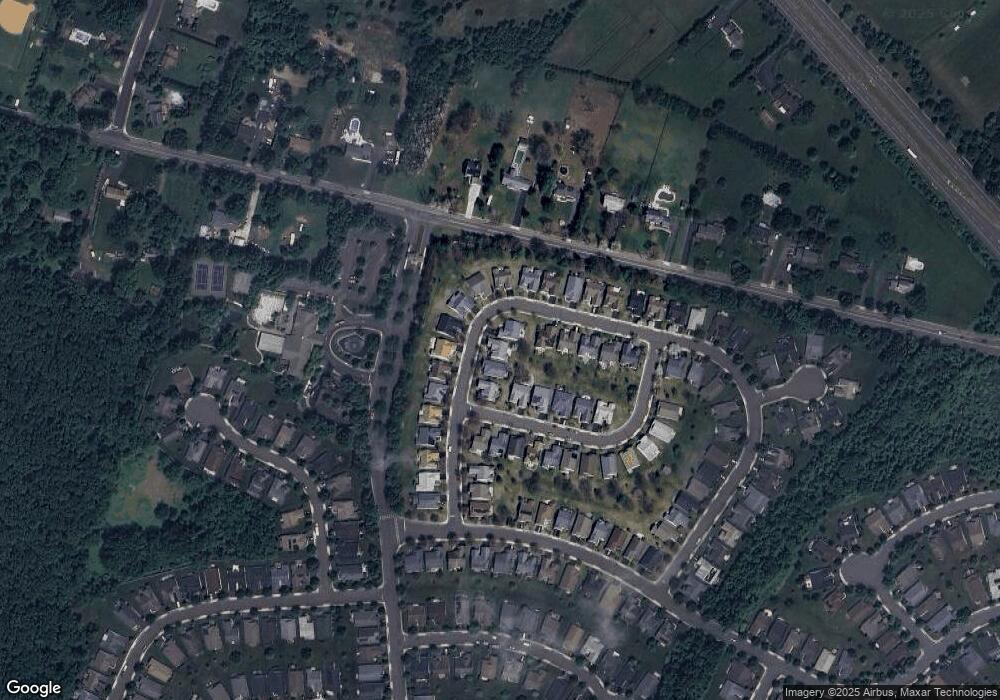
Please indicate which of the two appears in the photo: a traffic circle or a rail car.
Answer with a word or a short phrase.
traffic circle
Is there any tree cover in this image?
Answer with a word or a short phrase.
Yes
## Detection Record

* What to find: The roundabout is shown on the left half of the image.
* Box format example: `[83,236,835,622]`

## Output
[322,319,389,379]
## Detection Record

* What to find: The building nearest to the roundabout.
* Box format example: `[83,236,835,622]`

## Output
[281,308,326,377]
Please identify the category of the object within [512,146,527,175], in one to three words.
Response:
swimming pool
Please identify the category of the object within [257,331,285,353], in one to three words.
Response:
building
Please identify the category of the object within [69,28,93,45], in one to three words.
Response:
swimming pool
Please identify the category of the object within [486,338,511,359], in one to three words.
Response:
house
